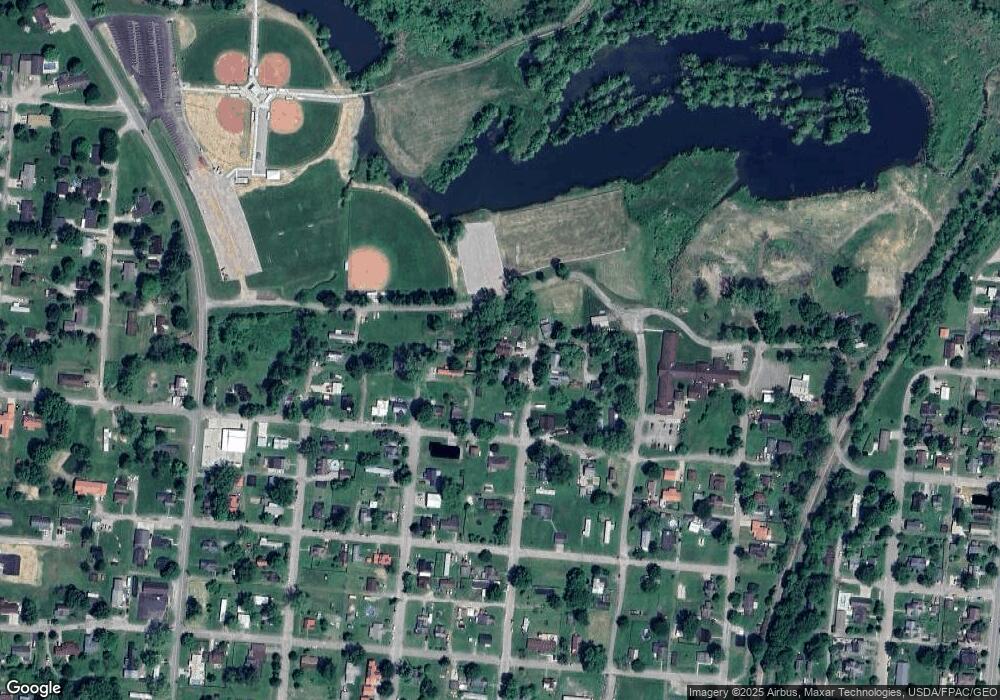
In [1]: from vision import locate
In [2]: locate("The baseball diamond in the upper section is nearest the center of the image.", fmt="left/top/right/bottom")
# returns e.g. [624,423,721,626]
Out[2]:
[348,183,450,293]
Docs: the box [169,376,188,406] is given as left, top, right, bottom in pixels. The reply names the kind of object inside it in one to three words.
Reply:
house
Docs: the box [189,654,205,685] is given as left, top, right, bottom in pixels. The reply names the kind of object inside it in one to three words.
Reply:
building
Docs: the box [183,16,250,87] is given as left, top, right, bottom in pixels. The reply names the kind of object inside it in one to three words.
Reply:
baseball field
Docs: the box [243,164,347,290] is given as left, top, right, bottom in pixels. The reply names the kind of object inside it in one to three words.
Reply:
sports field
